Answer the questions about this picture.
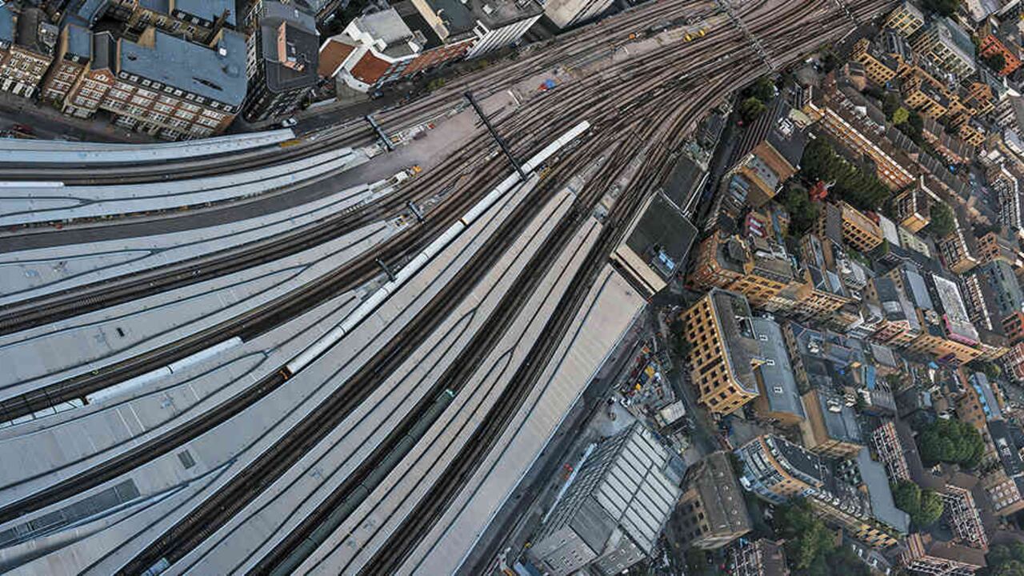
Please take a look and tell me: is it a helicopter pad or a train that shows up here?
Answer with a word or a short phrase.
train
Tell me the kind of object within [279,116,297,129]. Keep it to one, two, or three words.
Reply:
vehicle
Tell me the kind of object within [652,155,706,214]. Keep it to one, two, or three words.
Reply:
building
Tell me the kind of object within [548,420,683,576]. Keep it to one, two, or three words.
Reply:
warehouse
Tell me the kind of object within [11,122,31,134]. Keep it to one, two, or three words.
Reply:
vehicle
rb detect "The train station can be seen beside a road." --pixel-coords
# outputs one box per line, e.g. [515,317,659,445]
[0,128,647,576]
